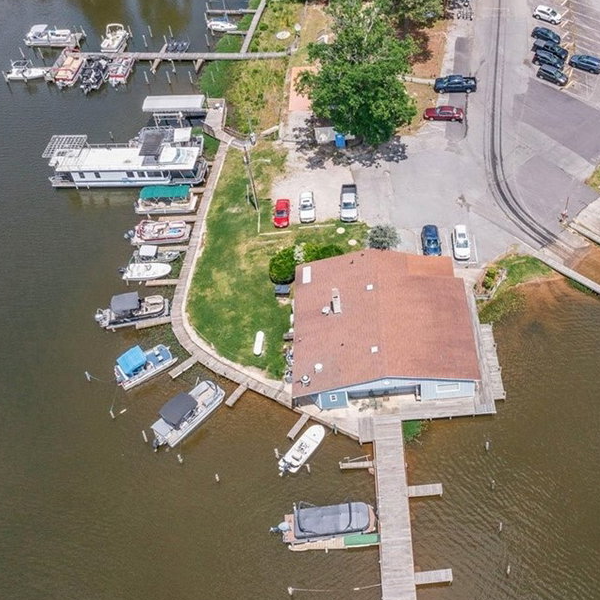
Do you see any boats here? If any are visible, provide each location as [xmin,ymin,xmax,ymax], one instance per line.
[172,42,189,54]
[127,222,192,249]
[117,264,173,285]
[94,292,170,334]
[153,386,228,450]
[40,132,207,189]
[130,242,182,266]
[23,27,79,50]
[51,51,86,90]
[81,56,117,96]
[205,0,238,32]
[106,56,139,91]
[132,185,198,218]
[276,501,377,549]
[163,42,180,54]
[276,425,323,481]
[99,25,125,53]
[116,343,181,393]
[3,60,49,82]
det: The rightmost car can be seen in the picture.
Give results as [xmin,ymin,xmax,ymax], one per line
[567,52,600,74]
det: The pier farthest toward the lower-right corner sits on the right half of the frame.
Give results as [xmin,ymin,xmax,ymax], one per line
[411,568,454,589]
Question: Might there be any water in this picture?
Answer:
Yes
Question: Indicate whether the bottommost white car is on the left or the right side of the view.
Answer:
right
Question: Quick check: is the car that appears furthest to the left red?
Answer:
Yes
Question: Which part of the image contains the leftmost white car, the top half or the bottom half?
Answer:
top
